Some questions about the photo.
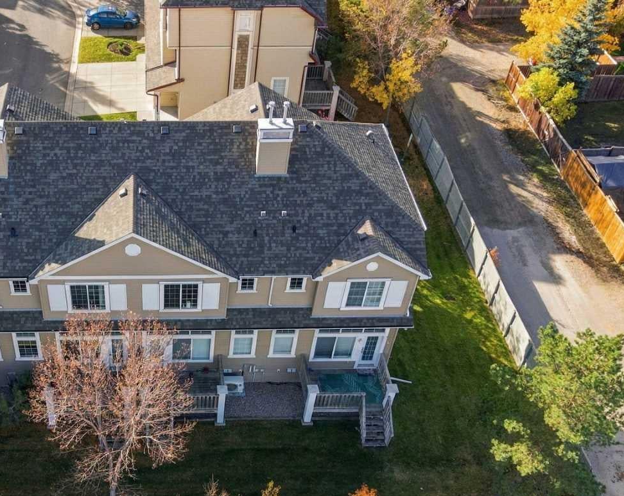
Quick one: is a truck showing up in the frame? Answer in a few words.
No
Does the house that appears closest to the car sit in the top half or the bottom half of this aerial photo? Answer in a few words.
top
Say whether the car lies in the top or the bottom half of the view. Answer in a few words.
top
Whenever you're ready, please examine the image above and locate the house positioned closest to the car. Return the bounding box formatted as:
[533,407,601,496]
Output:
[141,0,324,120]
